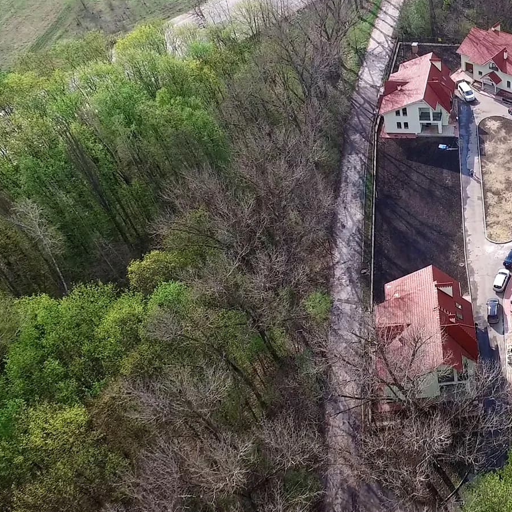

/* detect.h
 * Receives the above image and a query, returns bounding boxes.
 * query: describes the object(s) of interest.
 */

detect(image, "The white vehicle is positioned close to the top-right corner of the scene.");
[458,81,472,98]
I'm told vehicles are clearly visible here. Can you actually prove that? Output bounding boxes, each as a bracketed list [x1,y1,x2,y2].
[458,81,472,98]
[503,251,512,267]
[493,272,509,290]
[488,300,501,322]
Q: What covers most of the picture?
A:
trees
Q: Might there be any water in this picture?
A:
No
